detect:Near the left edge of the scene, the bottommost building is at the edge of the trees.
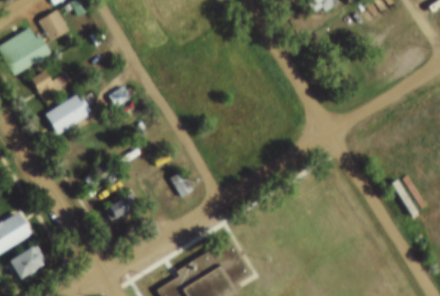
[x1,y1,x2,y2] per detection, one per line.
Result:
[10,246,46,279]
